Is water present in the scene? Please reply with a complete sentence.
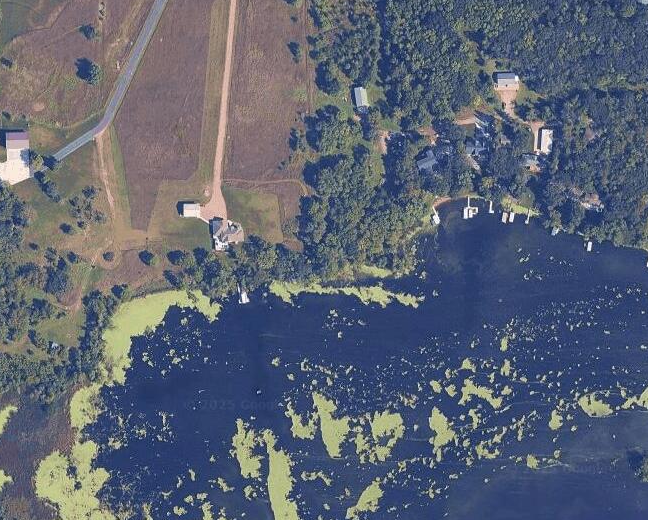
Yes, water shows up in the scene.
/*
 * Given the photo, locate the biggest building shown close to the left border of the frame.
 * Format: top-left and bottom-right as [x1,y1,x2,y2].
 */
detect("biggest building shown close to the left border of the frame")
[6,132,29,149]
